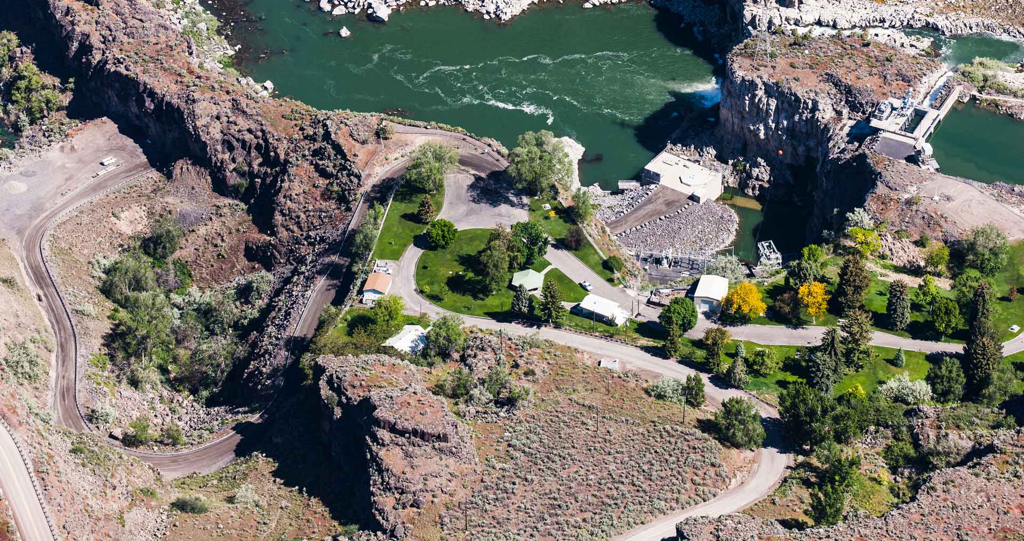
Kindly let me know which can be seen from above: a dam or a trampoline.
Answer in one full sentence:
The one in the frame is a dam.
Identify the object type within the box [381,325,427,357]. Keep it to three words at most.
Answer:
building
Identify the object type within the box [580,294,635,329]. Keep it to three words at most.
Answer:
building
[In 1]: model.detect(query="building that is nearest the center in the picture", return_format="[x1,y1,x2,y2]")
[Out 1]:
[511,269,545,293]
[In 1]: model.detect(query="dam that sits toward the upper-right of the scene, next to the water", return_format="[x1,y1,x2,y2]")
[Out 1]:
[867,86,963,144]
